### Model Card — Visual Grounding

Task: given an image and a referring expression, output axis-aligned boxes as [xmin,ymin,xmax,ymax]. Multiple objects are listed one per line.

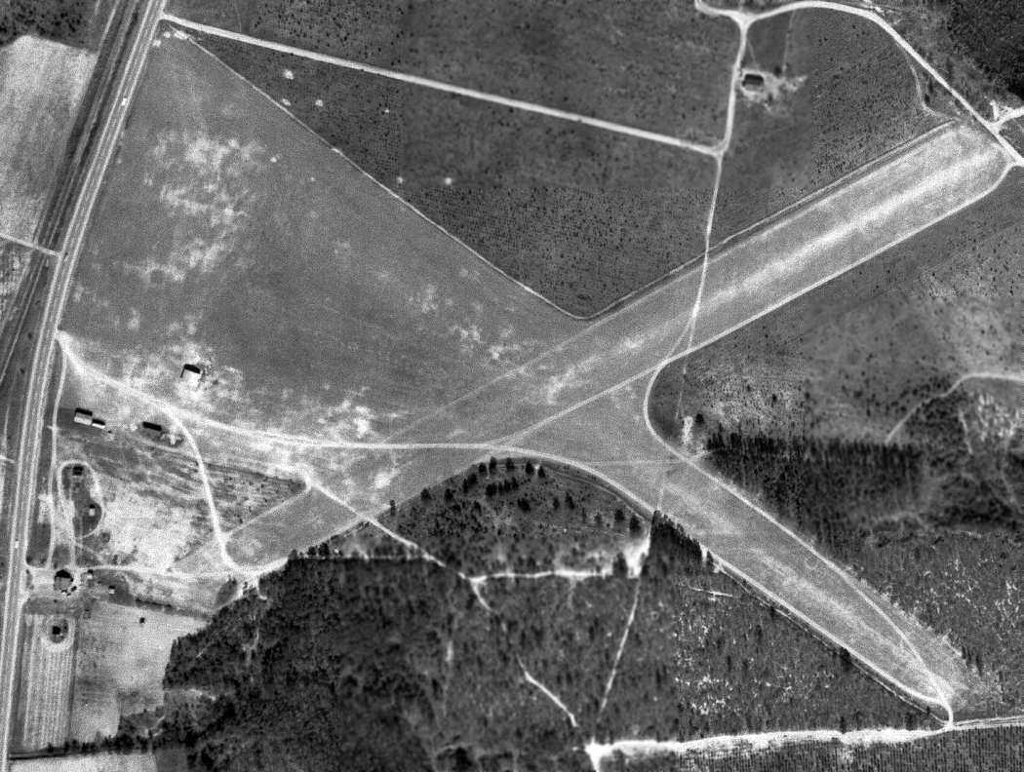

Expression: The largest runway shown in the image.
[226,127,1012,568]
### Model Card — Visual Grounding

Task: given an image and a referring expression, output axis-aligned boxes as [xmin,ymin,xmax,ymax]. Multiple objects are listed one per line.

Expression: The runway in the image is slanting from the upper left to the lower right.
[553,429,951,698]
